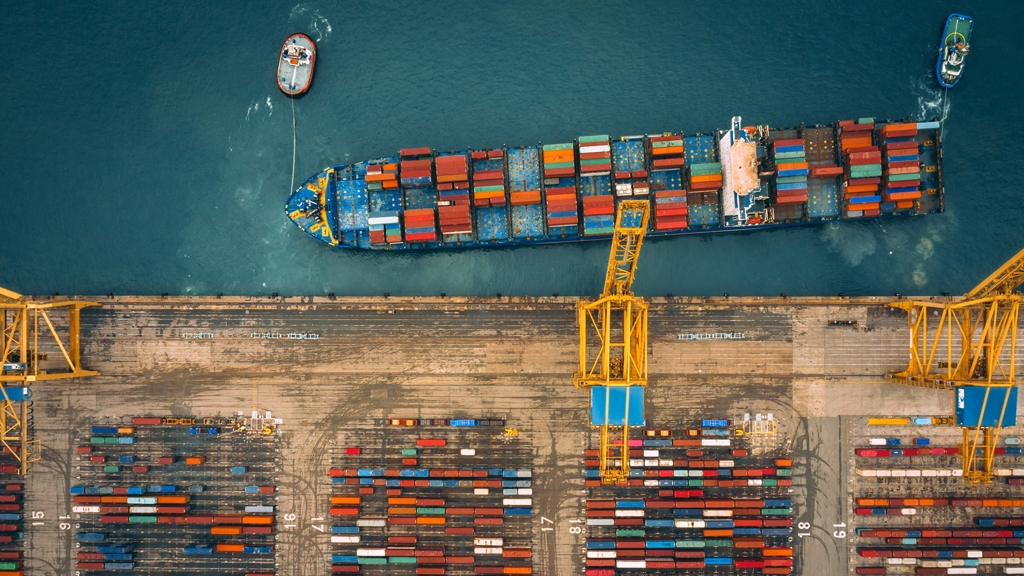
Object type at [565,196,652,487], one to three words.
container crane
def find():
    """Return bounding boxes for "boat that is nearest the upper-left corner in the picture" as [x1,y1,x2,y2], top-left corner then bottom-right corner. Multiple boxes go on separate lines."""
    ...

[276,33,319,97]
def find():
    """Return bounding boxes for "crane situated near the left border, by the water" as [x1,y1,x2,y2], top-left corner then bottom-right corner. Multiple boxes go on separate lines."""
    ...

[0,276,114,487]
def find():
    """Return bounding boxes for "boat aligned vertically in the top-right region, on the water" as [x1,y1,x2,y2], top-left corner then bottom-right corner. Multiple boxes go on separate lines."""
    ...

[936,11,975,92]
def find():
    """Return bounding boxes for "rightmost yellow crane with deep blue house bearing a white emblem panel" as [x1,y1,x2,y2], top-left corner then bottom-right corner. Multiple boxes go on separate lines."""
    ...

[880,244,1024,487]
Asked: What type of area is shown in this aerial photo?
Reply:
port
